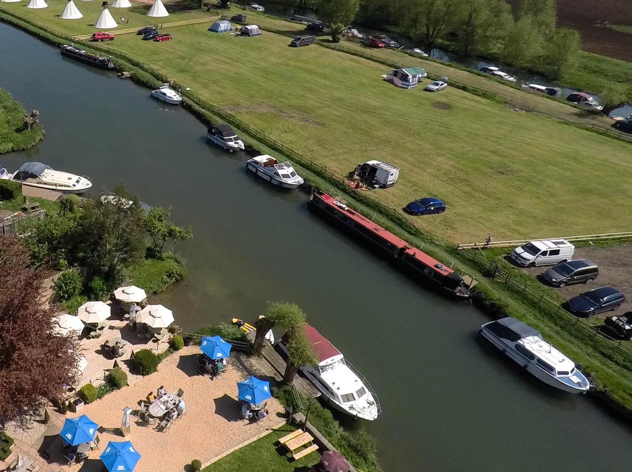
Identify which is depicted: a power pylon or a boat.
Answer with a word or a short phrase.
boat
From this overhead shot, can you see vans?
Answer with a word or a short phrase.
Yes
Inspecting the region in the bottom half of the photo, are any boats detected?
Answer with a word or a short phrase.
Yes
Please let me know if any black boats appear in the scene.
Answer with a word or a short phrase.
Yes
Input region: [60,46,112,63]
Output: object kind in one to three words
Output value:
boat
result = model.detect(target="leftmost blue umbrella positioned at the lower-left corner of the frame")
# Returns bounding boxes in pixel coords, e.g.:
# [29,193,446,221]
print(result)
[59,416,98,450]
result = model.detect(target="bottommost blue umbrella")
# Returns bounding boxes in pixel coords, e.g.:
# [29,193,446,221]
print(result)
[98,441,142,472]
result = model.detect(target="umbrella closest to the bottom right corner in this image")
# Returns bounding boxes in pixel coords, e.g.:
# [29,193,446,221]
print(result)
[312,448,353,472]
